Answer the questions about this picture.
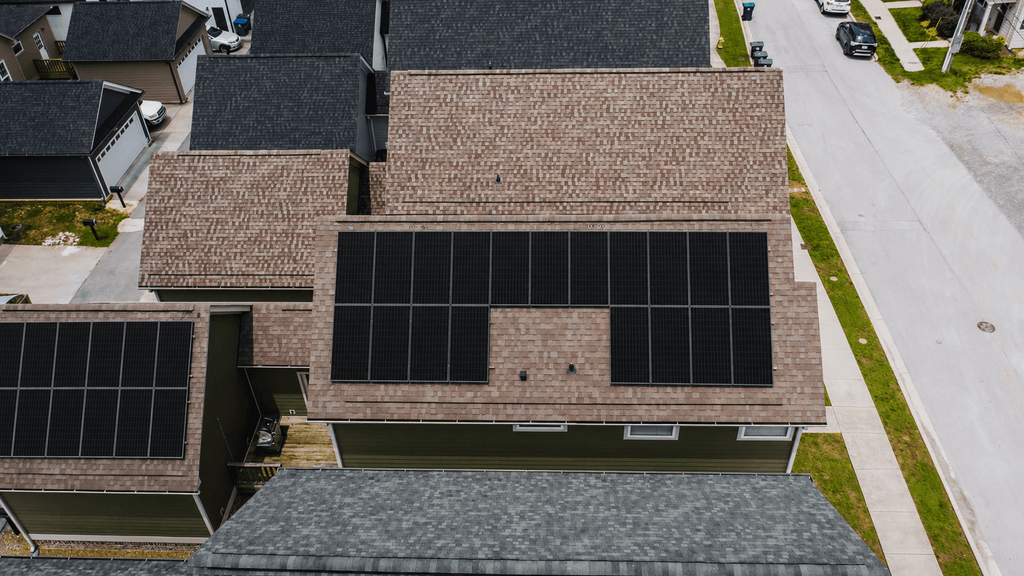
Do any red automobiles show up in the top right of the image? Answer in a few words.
No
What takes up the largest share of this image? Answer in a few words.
buildings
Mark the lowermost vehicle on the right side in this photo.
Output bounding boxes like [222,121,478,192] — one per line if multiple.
[838,19,879,52]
